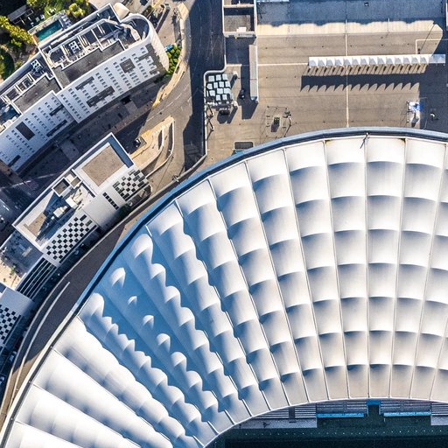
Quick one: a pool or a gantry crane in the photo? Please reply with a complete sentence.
There is a pool in the scene.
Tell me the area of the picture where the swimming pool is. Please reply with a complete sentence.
The swimming pool is located in the top left region of the scene.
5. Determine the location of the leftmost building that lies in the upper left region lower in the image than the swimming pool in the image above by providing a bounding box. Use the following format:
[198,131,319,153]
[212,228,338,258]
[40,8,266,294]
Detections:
[0,49,76,170]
